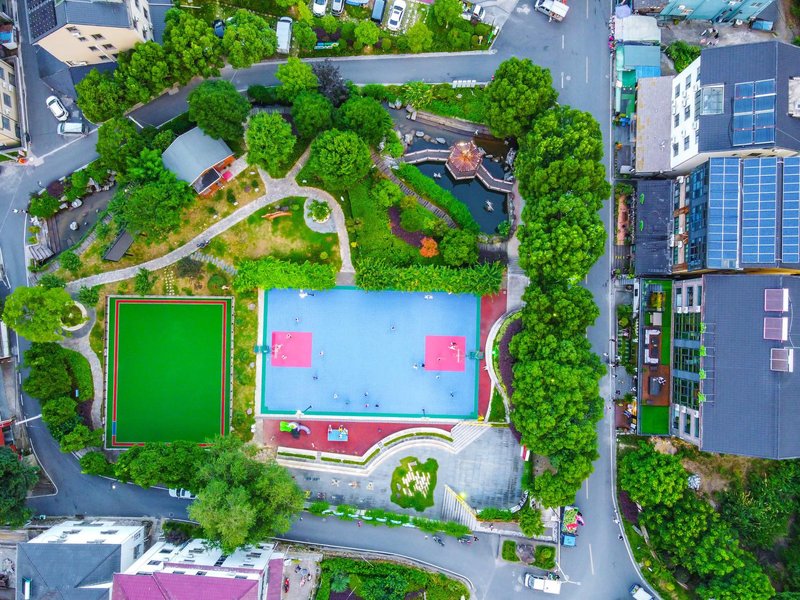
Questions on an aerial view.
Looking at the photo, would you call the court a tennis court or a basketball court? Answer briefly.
basketball court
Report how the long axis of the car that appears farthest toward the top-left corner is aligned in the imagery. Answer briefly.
diagonally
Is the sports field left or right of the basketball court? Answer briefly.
on its left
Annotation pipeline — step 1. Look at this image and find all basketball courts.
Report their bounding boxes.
[254,285,483,424]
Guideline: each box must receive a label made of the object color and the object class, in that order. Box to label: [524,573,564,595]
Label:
white truck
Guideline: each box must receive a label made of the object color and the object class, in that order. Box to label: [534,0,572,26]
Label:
white truck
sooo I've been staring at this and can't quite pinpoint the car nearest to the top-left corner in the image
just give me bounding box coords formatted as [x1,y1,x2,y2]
[45,95,73,122]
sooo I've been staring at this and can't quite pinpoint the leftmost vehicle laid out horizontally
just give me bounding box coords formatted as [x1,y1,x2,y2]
[57,121,91,137]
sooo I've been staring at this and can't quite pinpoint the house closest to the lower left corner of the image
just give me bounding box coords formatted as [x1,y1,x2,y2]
[16,523,145,600]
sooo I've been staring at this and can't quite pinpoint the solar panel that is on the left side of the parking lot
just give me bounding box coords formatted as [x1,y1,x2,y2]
[30,0,59,37]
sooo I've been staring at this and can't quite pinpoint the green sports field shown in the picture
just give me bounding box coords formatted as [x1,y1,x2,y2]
[105,297,233,448]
